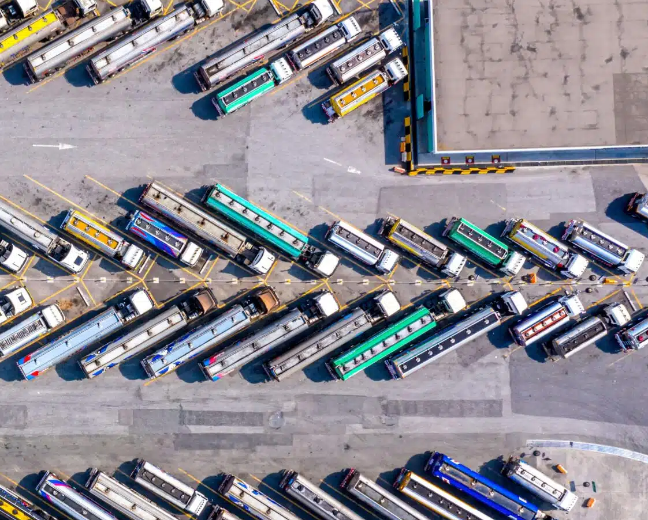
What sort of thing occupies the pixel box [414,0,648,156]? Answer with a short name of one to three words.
building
